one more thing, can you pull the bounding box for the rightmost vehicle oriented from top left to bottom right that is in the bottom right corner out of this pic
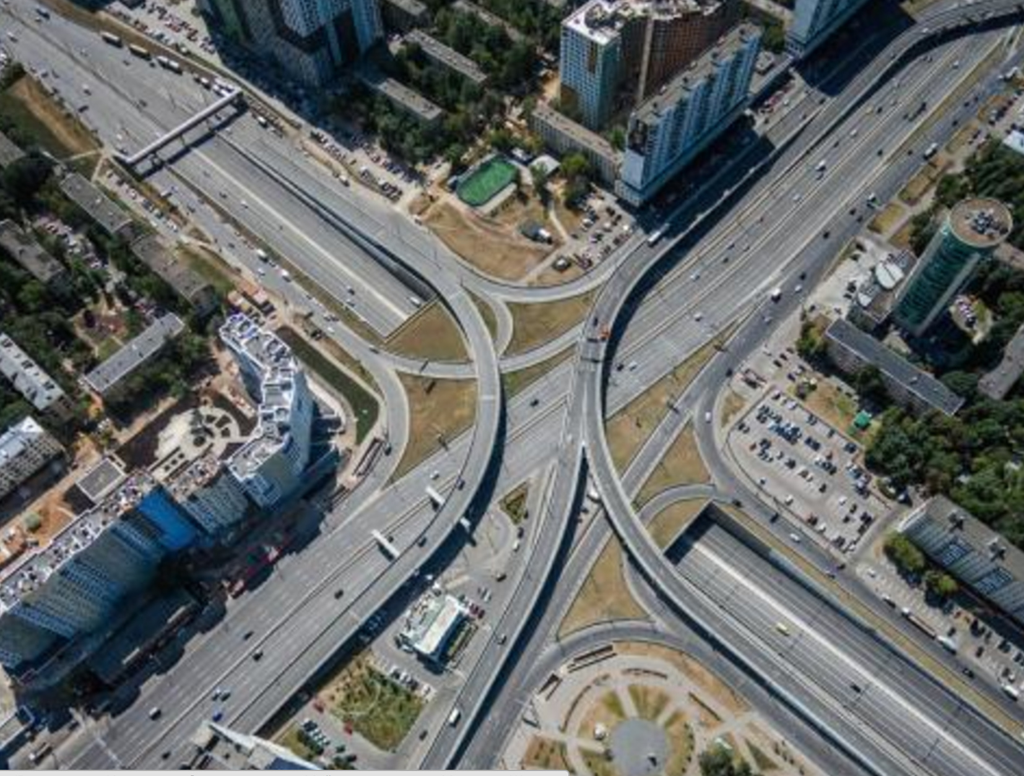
[1001,684,1024,706]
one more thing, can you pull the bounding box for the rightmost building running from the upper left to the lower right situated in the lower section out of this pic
[904,495,1024,615]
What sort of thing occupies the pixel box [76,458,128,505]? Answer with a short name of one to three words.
building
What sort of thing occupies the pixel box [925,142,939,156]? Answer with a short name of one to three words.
vehicle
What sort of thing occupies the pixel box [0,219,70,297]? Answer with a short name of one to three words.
building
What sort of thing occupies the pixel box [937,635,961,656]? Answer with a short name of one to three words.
truck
